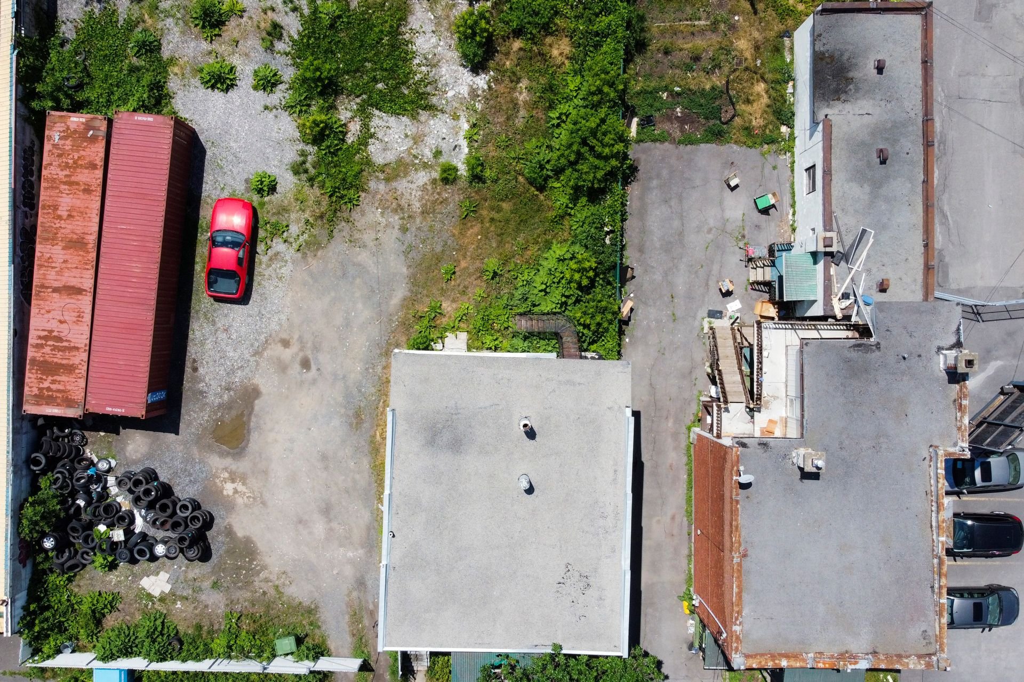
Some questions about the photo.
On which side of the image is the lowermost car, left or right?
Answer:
right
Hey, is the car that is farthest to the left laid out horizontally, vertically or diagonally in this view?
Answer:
vertically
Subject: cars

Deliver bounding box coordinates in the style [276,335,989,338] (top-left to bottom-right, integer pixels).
[946,583,1019,635]
[945,510,1024,561]
[204,199,257,302]
[942,450,1021,497]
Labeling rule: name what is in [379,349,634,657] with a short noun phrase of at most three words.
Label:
house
